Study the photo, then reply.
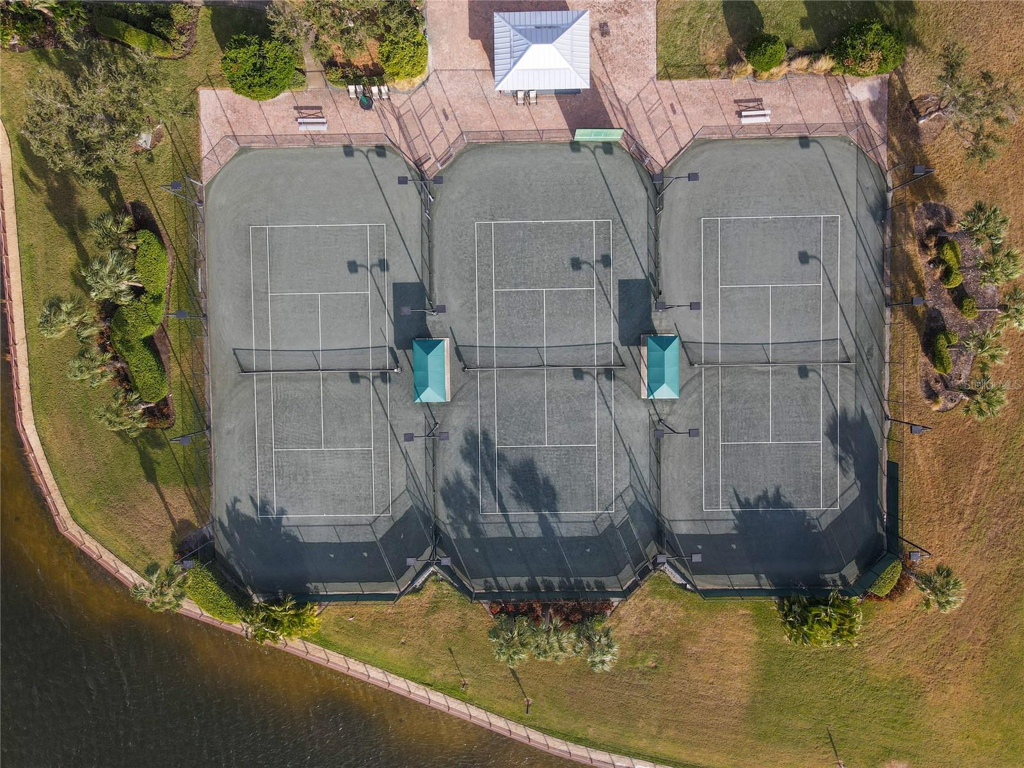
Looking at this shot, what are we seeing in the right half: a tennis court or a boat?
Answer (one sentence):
There is a tennis court in the right half.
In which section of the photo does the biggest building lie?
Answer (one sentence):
The biggest building is in the top part of the image.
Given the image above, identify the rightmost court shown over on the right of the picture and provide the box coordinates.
[660,134,888,587]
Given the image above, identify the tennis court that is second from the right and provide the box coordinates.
[426,141,662,591]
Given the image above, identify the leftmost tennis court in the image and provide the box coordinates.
[203,143,436,593]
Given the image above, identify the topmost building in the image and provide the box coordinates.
[493,10,590,96]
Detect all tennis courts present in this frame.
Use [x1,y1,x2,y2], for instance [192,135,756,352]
[660,134,888,587]
[426,141,662,591]
[203,143,436,593]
